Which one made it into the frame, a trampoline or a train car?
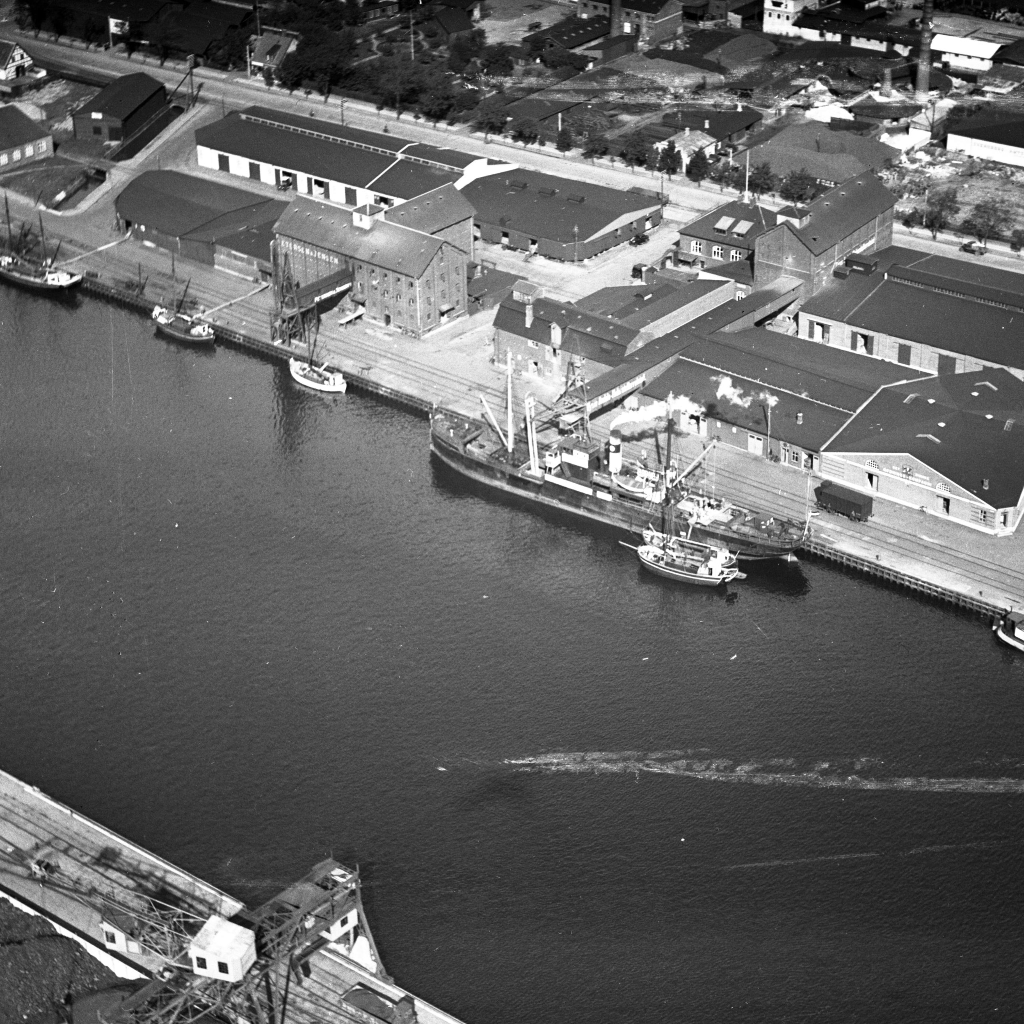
train car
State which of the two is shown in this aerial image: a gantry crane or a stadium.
gantry crane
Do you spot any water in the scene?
Yes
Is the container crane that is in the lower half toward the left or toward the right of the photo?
left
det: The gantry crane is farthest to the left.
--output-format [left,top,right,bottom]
[31,844,399,1024]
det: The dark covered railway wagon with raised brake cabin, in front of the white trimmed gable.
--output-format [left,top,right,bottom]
[820,480,874,521]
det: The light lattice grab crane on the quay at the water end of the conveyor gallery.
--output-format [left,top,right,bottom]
[521,351,597,447]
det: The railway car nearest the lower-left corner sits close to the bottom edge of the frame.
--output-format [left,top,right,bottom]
[345,977,410,1024]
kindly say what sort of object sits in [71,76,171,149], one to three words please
shed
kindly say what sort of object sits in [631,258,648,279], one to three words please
vehicle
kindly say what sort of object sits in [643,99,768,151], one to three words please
shed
